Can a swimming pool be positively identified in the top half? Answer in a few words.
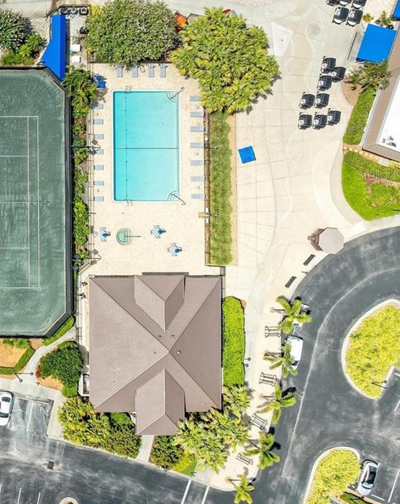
Yes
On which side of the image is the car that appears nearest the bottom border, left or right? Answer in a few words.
right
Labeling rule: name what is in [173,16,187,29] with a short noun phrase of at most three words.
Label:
umbrella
